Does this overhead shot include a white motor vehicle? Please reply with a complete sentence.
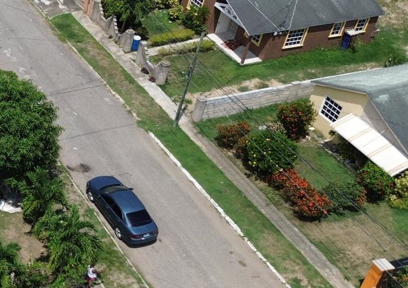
No, no white motor vehicle can be seen from above.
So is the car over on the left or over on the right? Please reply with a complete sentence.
It is on the left.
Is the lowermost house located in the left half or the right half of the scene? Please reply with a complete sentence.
The lowermost house is on the right side of the image.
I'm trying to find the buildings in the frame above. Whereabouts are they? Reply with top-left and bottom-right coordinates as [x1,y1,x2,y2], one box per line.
[184,0,389,66]
[309,64,408,184]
